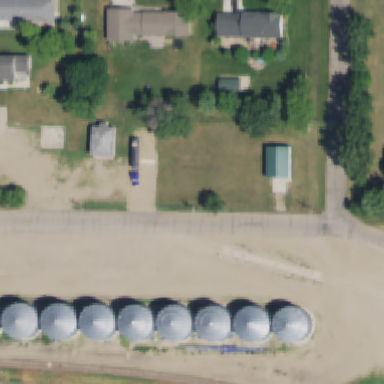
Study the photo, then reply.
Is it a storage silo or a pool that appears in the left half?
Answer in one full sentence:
What appears in the left half is a storage silo.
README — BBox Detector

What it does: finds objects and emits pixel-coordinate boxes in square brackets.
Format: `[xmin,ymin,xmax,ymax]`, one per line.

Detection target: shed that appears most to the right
[265,146,288,178]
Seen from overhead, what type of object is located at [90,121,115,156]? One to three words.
shed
